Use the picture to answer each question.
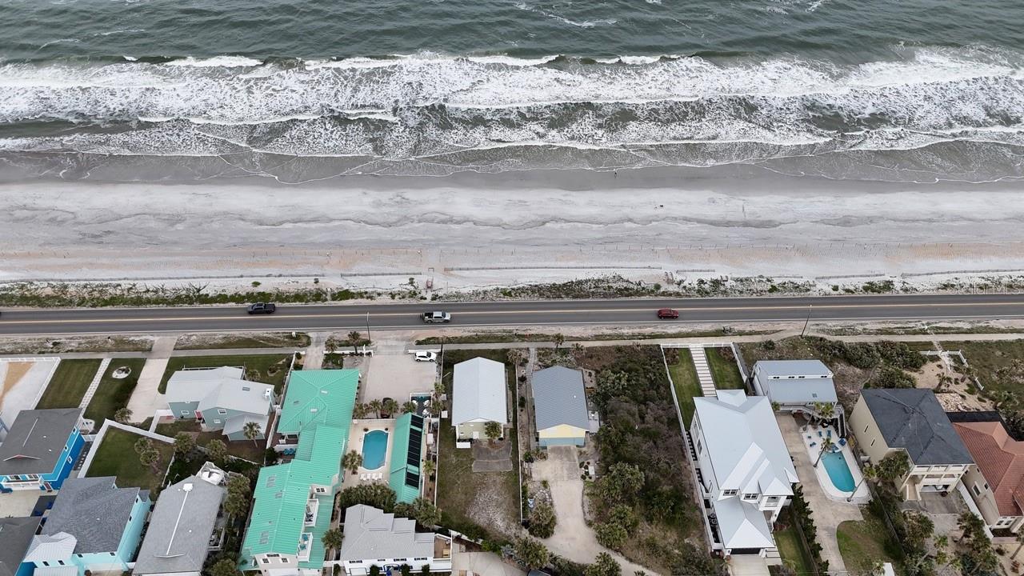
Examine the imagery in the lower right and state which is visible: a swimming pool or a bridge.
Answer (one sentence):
Visible in the lower right is a swimming pool.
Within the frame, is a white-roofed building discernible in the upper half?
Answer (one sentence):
No, there's no white-roofed building to be seen in the upper half.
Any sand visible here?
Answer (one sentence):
Yes, some sand is visible.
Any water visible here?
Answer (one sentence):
Yes, there's water in this view.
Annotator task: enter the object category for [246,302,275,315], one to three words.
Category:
vehicle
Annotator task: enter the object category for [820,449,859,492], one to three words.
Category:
swimming pool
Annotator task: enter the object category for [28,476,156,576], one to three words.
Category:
house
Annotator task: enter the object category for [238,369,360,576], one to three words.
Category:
building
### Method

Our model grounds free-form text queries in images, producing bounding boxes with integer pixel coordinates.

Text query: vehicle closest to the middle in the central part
[421,311,450,325]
